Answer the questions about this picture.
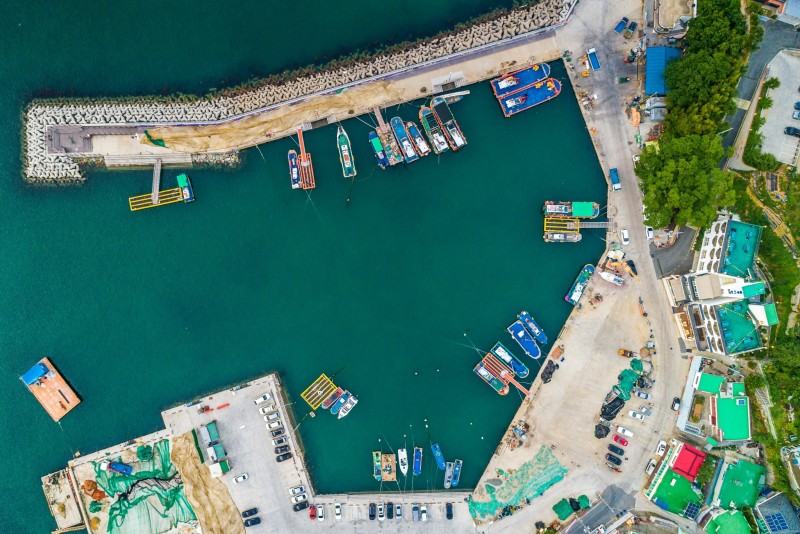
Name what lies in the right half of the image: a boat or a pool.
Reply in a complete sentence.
What appears in the right half of the image is a boat.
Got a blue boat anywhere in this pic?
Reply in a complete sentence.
Yes, a blue boat appears in the view.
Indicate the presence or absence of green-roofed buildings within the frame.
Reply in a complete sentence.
Yes, a green-roofed building can be made out from above.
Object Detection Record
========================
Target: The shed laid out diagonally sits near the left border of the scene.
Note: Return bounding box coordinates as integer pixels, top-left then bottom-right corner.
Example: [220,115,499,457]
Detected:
[17,361,48,389]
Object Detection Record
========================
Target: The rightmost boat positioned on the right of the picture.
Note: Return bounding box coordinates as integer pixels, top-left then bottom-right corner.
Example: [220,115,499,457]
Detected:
[602,273,629,286]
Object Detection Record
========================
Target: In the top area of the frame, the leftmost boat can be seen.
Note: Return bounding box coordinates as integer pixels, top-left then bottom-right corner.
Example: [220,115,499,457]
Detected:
[177,171,198,204]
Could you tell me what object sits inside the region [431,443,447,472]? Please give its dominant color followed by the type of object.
blue boat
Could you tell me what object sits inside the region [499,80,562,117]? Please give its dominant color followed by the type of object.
blue ship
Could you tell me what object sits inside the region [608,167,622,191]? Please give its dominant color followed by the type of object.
blue vehicle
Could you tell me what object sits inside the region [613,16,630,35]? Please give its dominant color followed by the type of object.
blue vehicle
